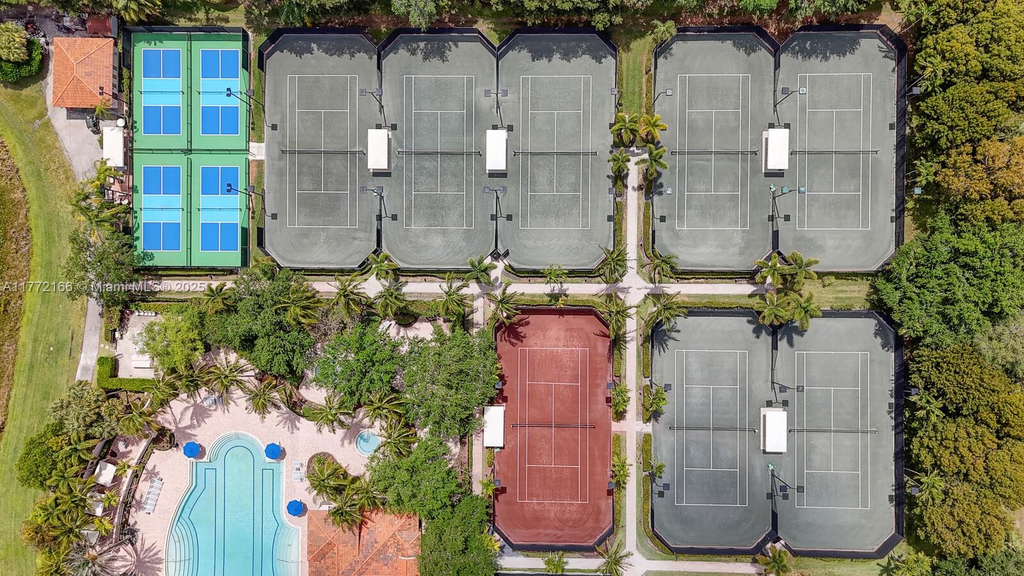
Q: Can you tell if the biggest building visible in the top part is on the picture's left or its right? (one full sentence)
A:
The biggest building visible in the top part appears in the left half of the scene.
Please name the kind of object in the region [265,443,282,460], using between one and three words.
umbrella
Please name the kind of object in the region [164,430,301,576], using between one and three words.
swimming pool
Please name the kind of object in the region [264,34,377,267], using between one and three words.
tennis court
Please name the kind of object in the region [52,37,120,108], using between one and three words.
building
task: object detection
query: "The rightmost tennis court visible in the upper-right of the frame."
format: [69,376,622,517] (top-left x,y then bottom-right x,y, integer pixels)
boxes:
[778,31,896,271]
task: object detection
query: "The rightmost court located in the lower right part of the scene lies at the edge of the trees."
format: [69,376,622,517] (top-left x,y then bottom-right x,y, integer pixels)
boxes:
[777,311,895,551]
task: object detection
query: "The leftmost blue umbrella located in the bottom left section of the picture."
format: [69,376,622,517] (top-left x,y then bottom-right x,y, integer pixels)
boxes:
[184,442,201,458]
